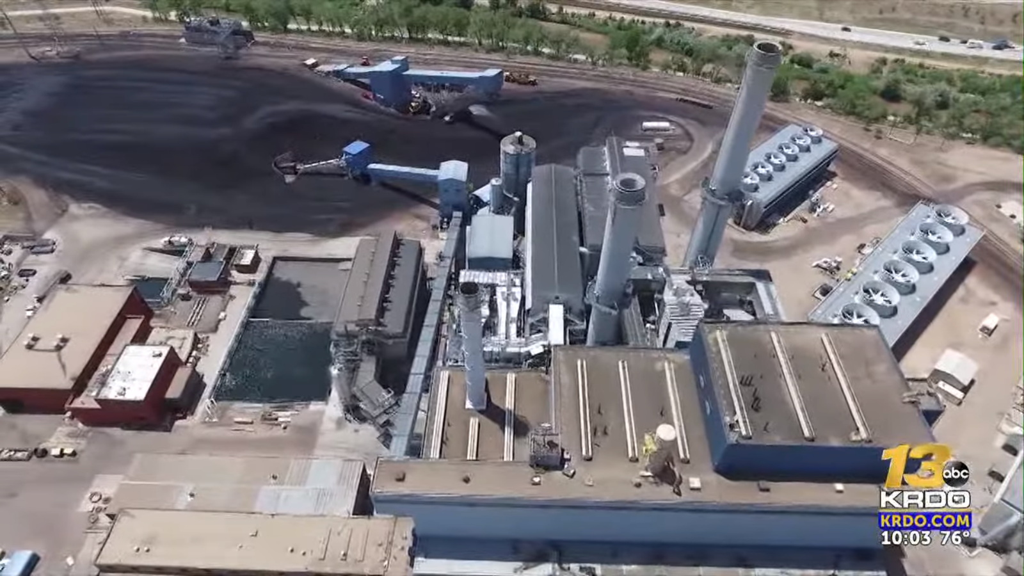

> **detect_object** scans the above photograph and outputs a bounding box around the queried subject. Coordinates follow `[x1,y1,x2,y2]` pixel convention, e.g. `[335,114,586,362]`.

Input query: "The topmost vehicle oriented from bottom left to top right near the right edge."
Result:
[981,310,1003,334]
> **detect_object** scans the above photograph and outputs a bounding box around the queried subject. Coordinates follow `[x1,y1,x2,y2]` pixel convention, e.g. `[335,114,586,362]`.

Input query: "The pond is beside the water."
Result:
[208,256,355,412]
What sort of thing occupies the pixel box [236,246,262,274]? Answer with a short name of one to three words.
shed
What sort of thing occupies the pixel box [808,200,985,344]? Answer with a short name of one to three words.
cooling tower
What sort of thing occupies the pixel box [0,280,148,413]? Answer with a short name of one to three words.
building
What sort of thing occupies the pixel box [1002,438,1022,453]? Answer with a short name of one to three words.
car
